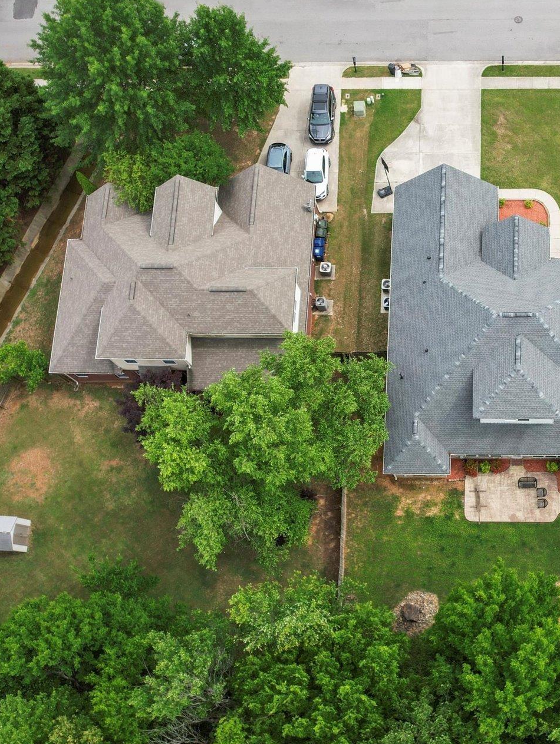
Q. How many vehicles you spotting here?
3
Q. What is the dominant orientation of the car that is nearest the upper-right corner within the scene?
from top to bottom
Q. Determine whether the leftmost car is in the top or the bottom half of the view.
top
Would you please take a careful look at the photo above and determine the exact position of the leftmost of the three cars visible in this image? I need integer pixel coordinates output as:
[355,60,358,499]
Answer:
[269,140,296,176]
